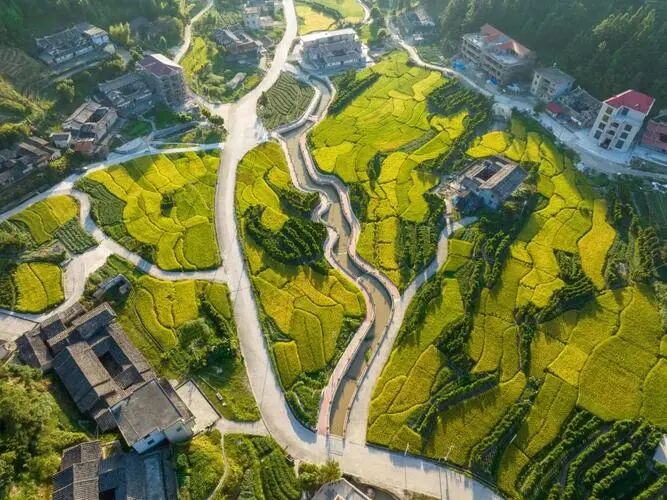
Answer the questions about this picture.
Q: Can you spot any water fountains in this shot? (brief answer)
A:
No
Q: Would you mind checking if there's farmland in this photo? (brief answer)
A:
Yes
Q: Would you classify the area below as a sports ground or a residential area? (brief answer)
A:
residential area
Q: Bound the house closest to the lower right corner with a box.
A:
[313,470,370,500]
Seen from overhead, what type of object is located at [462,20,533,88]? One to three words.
building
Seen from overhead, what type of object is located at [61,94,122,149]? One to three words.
house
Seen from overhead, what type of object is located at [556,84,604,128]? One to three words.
house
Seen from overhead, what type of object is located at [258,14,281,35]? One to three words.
shed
